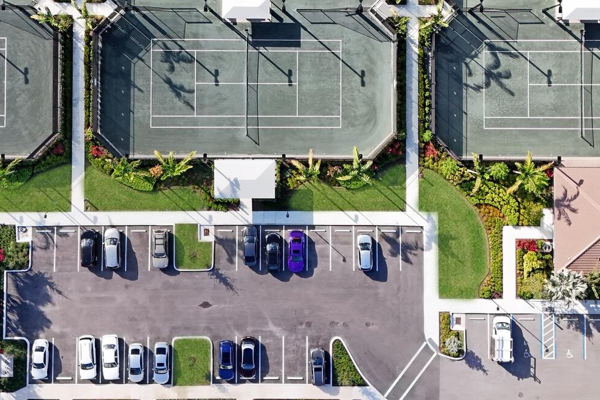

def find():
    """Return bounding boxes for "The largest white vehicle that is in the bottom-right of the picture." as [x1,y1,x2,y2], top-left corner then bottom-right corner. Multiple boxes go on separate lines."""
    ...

[495,315,515,366]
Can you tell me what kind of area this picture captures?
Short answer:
sports ground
